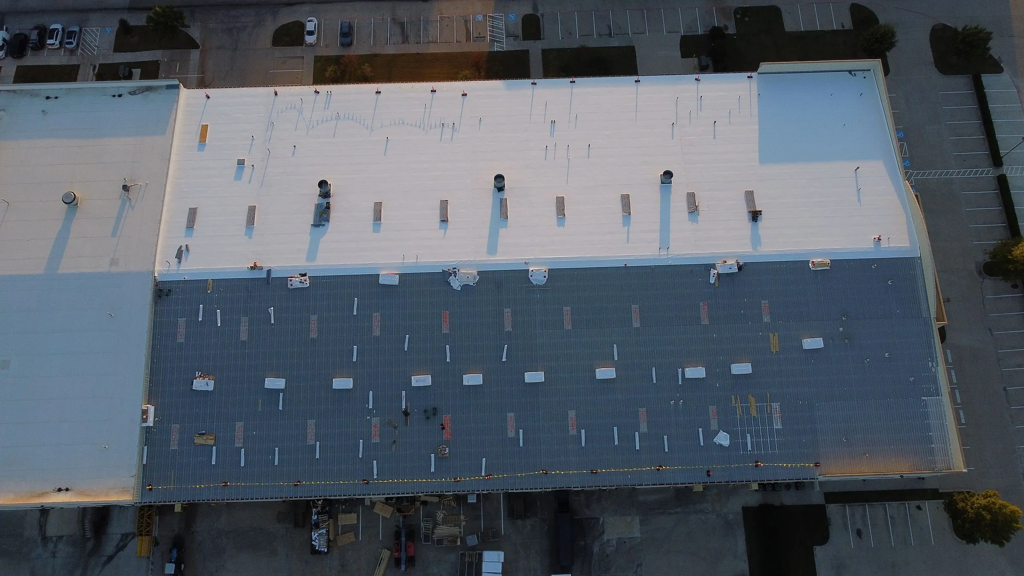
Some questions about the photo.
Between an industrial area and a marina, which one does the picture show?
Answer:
industrial area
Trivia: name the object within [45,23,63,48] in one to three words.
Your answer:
car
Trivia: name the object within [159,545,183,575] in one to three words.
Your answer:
work vehicle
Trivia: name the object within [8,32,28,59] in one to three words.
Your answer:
car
